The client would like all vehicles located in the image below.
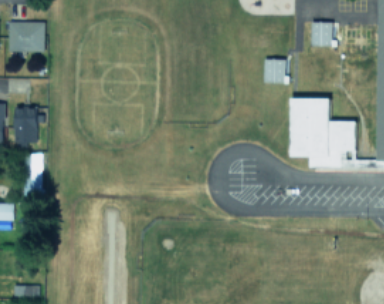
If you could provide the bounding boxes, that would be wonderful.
[276,188,285,198]
[12,4,18,16]
[286,190,300,195]
[22,6,27,17]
